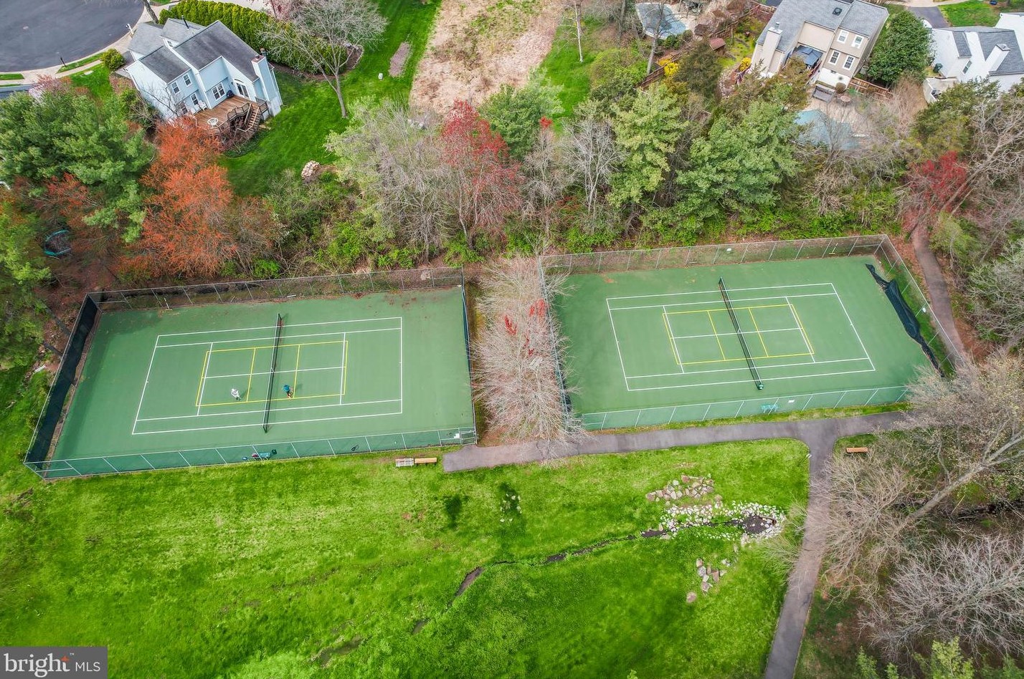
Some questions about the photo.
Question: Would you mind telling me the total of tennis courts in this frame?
two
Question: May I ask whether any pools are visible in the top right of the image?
Yes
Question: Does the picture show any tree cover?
Yes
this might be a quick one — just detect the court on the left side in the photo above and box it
[48,287,476,470]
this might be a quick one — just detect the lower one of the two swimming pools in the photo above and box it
[797,108,861,152]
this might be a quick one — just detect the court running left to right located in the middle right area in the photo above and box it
[541,255,948,432]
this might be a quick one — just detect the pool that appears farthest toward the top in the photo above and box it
[635,1,688,39]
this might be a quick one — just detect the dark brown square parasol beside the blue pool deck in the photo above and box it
[690,18,714,36]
